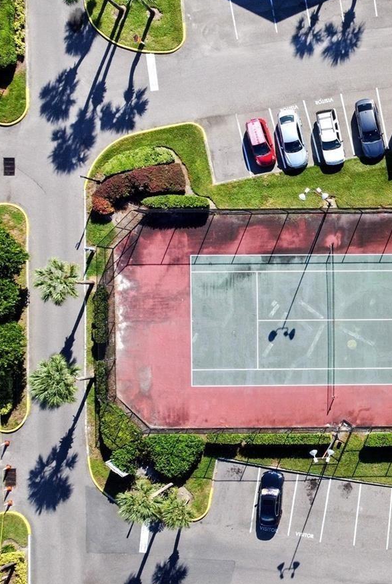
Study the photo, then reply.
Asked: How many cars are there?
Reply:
five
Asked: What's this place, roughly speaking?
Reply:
sports ground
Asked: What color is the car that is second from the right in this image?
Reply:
white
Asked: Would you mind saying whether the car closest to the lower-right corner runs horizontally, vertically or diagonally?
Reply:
vertically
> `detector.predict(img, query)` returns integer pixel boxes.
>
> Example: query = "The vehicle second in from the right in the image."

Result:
[316,108,347,166]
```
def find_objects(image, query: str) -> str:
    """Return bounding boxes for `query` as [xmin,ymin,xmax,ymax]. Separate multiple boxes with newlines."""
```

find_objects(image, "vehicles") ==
[356,99,387,161]
[277,110,312,170]
[255,469,284,527]
[316,108,347,166]
[246,117,279,170]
